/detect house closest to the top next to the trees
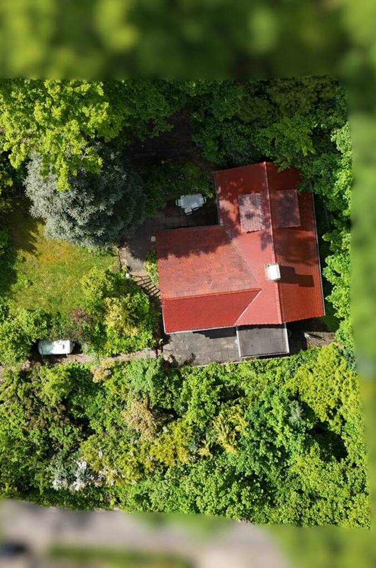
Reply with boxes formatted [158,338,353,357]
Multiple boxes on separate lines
[154,161,326,334]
